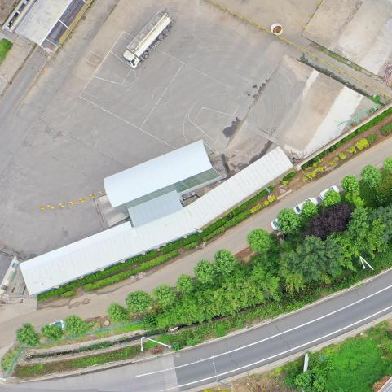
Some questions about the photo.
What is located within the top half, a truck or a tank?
truck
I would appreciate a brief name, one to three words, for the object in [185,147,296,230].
building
